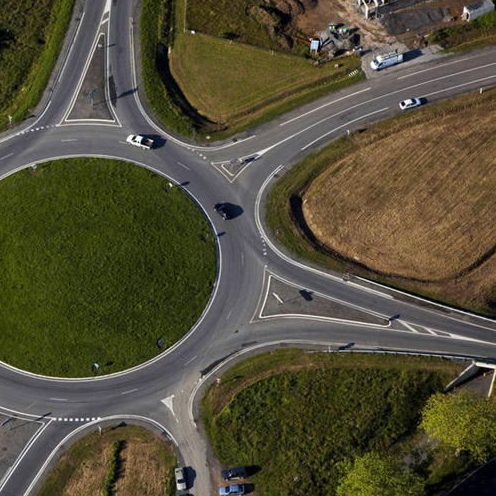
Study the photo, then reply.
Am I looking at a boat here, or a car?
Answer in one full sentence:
The one in the frame is a car.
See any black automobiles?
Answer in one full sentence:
Yes, there is a black automobile in the image.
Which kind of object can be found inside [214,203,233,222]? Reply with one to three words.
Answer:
car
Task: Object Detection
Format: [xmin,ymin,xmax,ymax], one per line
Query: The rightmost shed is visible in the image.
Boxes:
[462,2,494,23]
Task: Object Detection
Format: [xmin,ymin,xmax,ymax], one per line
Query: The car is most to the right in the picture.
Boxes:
[398,97,422,110]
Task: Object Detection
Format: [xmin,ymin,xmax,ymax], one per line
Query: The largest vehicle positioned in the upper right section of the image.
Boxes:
[372,50,405,71]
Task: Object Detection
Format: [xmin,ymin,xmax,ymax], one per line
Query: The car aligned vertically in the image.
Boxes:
[175,467,187,492]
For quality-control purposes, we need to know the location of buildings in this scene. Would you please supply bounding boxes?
[345,0,430,22]
[462,2,494,23]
